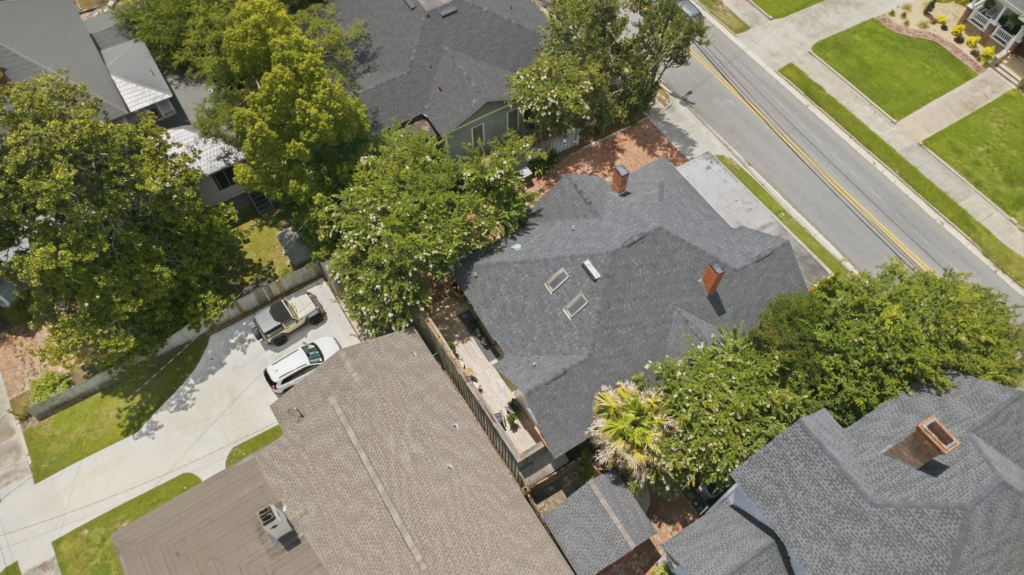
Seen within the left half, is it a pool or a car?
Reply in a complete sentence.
The one visible within the left half is a car.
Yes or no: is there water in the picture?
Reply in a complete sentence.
No, there's no water in this view.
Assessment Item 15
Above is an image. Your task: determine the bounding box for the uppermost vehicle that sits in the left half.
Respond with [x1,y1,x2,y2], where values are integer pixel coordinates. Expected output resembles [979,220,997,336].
[252,289,328,345]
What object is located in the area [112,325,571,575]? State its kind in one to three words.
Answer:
house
